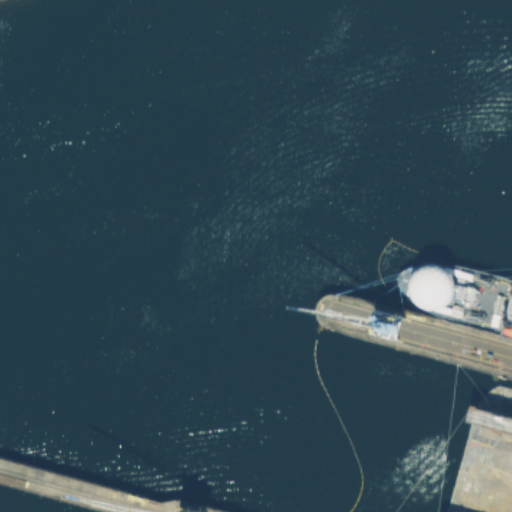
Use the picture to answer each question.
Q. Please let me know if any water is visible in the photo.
Yes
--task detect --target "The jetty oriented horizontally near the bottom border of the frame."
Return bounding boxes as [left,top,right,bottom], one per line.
[0,460,207,512]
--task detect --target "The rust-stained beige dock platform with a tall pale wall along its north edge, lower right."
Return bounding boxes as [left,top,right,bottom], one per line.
[454,408,512,512]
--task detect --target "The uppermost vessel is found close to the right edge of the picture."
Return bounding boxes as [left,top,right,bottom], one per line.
[398,263,512,338]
